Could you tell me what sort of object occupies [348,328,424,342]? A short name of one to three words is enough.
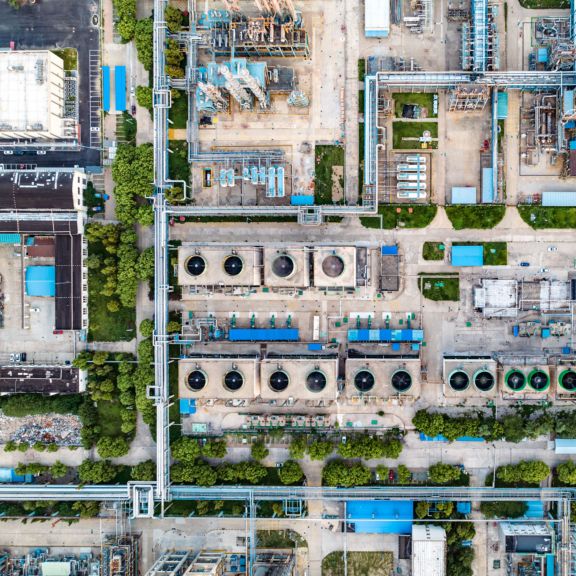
building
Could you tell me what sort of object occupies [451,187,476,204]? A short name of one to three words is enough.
shed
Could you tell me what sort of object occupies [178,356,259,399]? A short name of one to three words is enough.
cooling tower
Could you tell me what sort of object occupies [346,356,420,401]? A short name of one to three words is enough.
cooling tower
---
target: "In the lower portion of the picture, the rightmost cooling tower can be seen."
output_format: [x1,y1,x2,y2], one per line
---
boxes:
[550,361,576,394]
